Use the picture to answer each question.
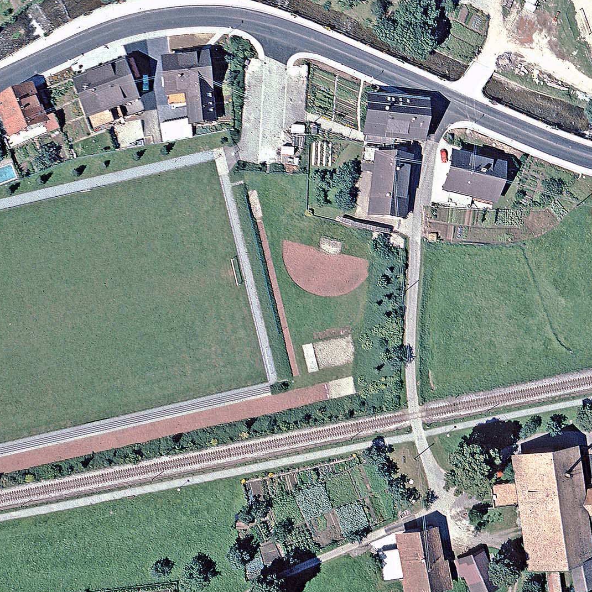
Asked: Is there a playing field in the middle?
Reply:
Yes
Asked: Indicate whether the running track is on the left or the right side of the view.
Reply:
left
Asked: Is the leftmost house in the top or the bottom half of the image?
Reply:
top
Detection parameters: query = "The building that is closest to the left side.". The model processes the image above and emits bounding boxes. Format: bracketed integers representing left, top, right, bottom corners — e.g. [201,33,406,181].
[0,81,59,136]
